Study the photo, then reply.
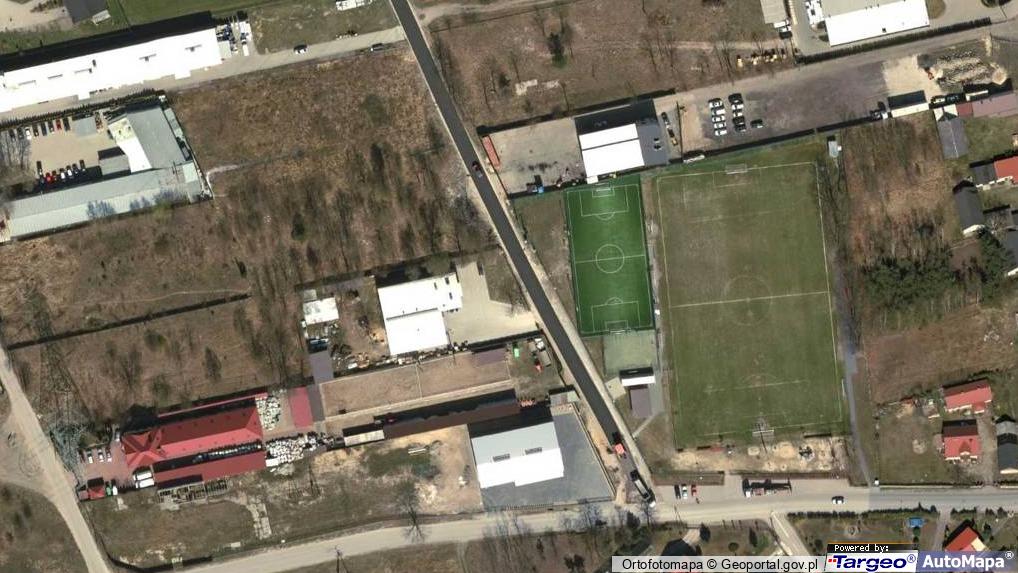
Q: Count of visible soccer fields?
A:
2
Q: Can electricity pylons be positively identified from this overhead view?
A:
Yes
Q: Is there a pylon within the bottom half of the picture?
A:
Yes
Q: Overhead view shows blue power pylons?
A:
No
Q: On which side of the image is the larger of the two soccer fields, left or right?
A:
right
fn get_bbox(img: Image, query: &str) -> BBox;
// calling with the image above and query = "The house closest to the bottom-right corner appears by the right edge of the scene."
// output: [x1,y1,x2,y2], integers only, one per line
[945,527,993,573]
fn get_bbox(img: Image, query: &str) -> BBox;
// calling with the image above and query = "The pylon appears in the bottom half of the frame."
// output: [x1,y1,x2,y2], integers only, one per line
[33,424,89,458]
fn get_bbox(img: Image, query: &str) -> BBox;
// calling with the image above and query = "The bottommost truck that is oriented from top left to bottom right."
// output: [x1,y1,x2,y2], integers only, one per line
[631,474,655,505]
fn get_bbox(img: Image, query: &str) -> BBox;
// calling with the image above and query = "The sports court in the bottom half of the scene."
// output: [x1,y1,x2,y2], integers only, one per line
[604,331,656,376]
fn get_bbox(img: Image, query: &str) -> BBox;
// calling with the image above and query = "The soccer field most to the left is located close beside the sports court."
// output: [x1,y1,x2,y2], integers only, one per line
[564,179,656,336]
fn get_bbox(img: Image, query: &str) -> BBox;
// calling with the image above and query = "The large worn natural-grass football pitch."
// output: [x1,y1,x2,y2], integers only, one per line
[655,160,848,447]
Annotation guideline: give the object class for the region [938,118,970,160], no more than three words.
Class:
barn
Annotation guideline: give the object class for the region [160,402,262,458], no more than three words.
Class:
house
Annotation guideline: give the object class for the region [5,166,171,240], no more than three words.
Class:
building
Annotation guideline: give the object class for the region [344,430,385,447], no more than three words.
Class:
shed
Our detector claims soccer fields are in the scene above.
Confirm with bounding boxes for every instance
[564,179,656,336]
[655,160,848,447]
